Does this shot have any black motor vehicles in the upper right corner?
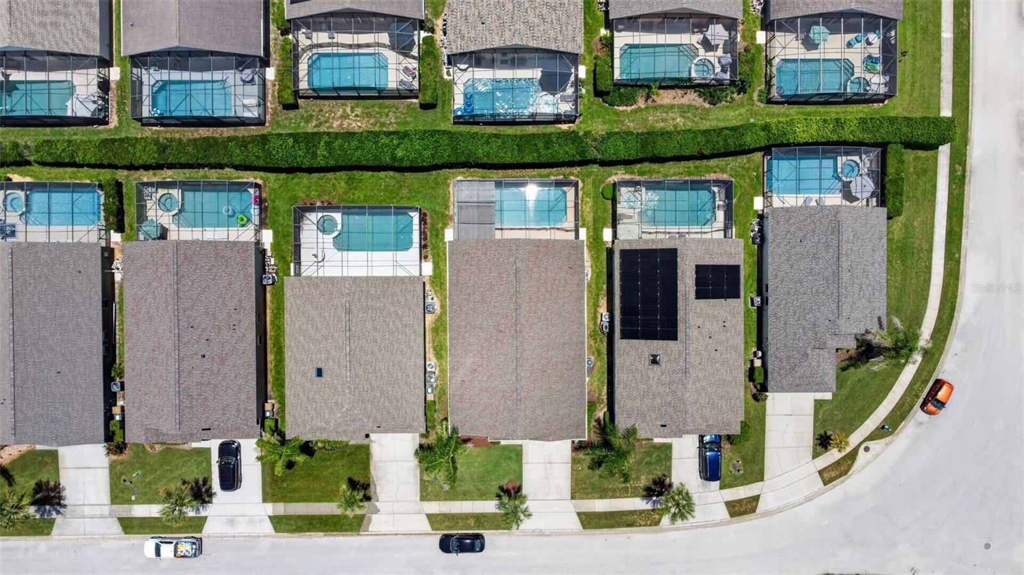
No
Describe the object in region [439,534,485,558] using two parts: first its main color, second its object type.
black car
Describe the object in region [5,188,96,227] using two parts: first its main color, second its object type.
blue swimming pool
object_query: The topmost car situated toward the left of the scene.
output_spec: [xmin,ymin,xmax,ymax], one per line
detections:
[215,443,241,489]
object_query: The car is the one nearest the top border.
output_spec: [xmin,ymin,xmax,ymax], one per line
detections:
[921,377,958,416]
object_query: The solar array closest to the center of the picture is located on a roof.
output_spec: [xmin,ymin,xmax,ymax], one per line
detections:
[620,249,678,342]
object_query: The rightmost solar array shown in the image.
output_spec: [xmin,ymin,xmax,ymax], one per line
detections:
[696,264,741,299]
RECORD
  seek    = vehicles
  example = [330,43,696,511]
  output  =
[215,443,241,489]
[439,534,485,558]
[921,377,958,416]
[142,538,201,564]
[702,437,726,480]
